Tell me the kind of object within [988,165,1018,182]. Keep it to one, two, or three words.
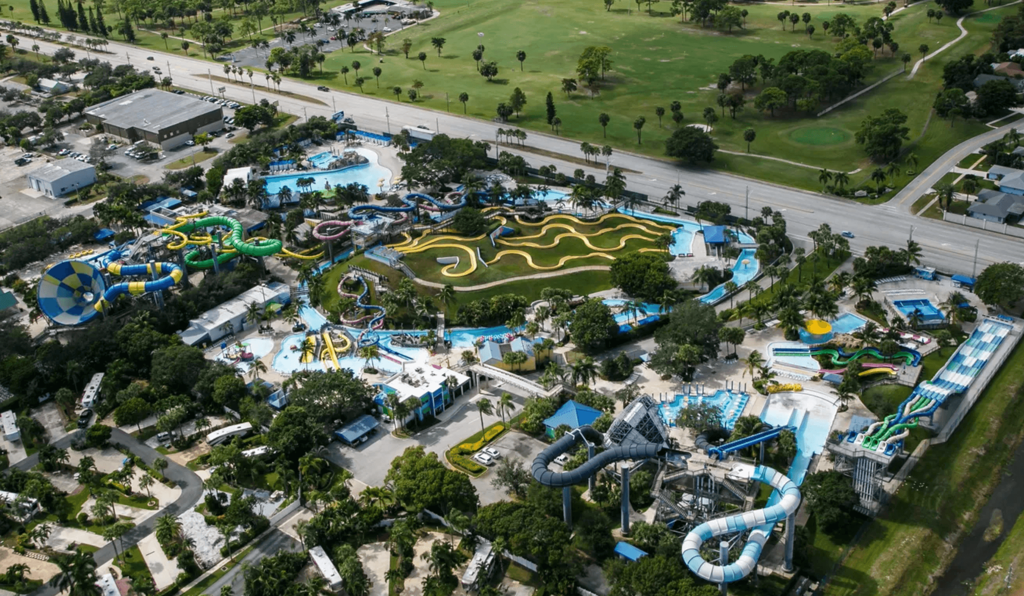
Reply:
house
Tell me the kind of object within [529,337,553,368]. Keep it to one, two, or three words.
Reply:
building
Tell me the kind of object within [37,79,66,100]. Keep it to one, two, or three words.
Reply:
house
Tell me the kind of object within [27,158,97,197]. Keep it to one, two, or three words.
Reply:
building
